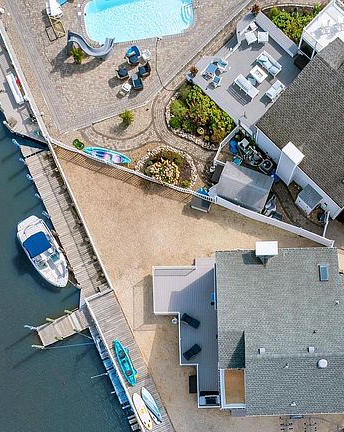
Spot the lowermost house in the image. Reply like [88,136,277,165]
[152,241,344,417]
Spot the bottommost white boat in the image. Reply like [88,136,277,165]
[16,210,68,289]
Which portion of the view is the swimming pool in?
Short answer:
top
